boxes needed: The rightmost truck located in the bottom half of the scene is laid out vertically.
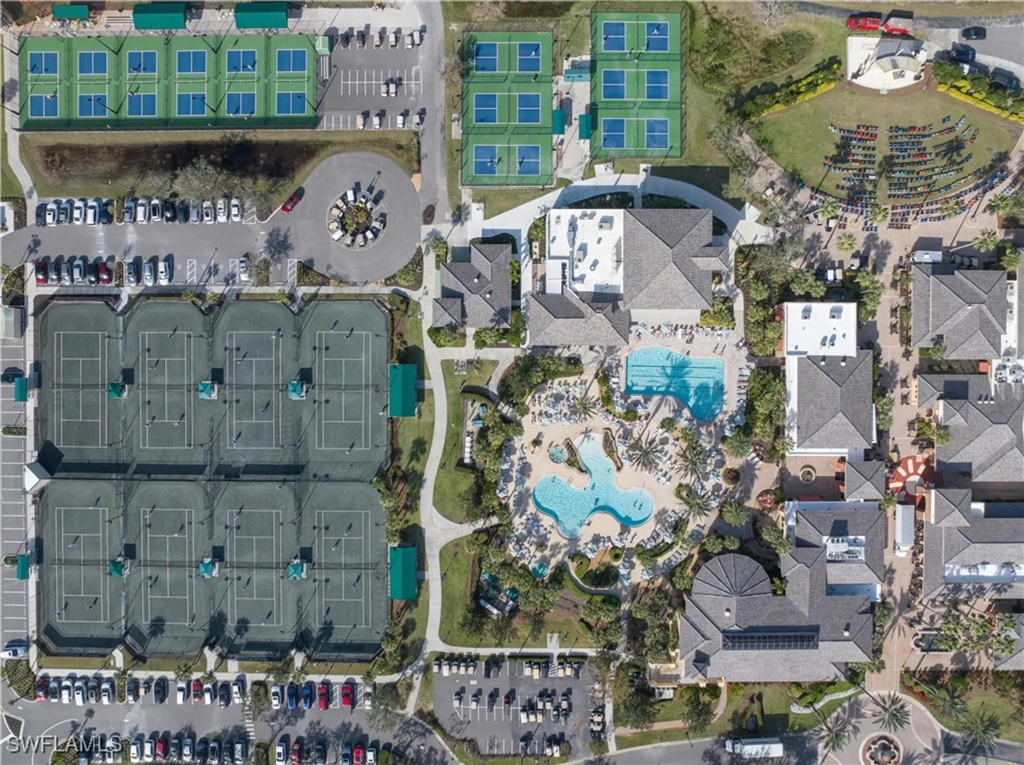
[892,504,915,556]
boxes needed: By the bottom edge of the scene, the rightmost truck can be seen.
[723,735,785,759]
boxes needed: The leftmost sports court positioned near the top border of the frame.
[19,35,68,125]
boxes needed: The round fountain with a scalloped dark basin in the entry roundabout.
[860,732,905,765]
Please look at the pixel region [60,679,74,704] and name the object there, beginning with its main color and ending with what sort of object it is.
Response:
white car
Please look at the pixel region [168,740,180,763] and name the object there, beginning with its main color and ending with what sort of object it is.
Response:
gray vehicle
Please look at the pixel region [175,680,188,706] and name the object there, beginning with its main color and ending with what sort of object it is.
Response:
white vehicle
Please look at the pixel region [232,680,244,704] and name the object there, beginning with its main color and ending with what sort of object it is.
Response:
white vehicle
